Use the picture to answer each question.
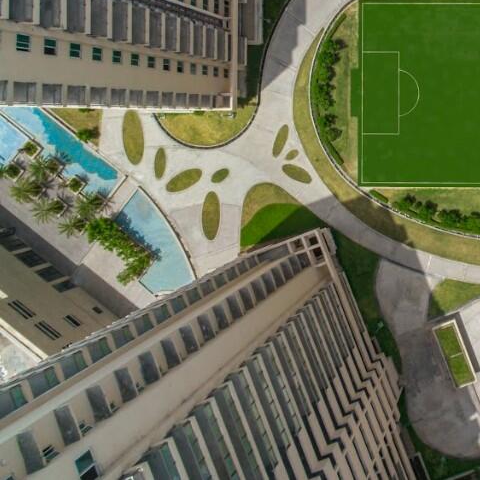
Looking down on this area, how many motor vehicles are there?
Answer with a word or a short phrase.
0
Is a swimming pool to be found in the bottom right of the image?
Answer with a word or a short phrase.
No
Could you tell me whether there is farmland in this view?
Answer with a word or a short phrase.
No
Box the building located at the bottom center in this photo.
[0,218,423,480]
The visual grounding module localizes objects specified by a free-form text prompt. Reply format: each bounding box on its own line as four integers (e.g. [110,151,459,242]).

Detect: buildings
[0,218,423,480]
[0,0,266,111]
